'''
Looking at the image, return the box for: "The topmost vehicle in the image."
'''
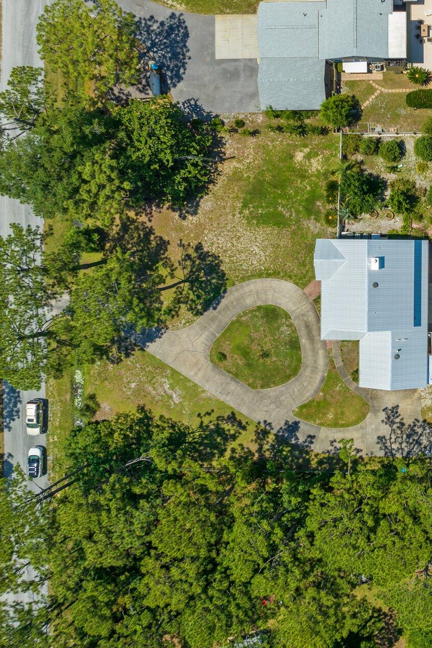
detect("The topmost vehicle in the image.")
[25,397,46,433]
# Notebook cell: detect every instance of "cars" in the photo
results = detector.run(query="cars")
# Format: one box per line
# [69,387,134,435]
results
[25,397,46,433]
[27,443,46,477]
